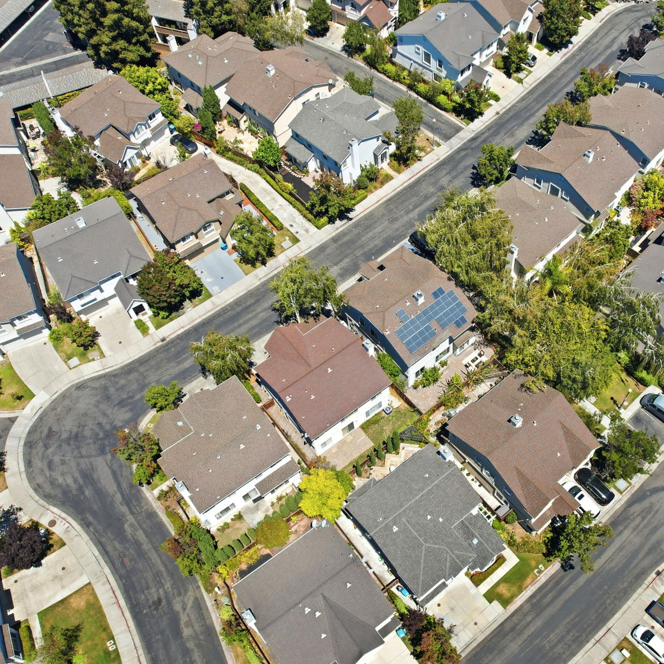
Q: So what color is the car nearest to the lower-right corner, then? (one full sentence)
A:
In this view, the car nearest to the lower-right corner is white.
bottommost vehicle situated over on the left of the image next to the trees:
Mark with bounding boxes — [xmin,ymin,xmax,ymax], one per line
[168,134,198,153]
